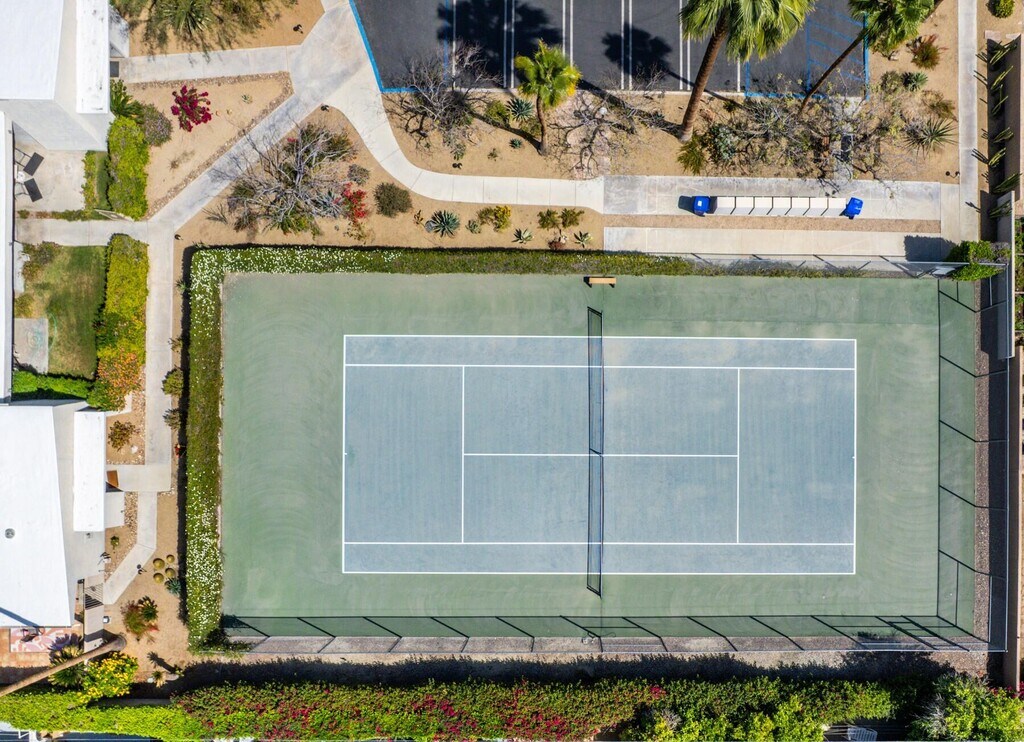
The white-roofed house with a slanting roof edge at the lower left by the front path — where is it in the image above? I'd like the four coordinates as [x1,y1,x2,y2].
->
[0,399,124,626]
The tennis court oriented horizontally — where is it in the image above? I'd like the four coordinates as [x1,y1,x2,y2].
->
[221,272,975,637]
